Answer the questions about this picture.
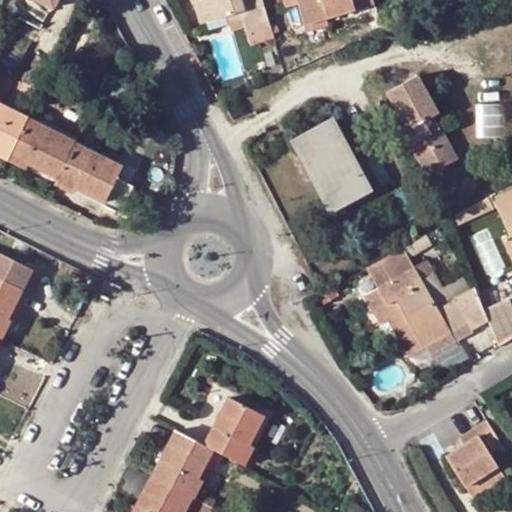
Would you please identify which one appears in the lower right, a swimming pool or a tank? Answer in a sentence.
There is a swimming pool in the lower right.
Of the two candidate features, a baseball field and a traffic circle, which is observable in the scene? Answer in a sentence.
Of the two, only a traffic circle appears.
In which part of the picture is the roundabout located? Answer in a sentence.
Look in the center portion of the view to spot the roundabout.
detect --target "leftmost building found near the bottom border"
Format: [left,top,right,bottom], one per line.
[134,431,212,512]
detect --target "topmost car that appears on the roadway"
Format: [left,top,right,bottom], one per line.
[154,4,168,24]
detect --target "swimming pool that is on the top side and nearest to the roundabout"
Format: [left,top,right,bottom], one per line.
[149,167,164,182]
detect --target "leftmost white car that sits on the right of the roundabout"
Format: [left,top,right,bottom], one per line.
[294,274,306,292]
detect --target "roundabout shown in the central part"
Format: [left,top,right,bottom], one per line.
[163,211,257,305]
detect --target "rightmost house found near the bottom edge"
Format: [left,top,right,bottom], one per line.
[446,421,504,496]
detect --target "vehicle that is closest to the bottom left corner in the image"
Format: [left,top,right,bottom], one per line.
[18,494,40,510]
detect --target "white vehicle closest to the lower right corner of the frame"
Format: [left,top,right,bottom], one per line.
[466,406,480,423]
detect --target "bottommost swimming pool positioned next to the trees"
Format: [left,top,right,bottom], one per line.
[371,362,405,391]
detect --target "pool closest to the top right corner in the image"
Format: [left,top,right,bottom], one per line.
[287,6,302,26]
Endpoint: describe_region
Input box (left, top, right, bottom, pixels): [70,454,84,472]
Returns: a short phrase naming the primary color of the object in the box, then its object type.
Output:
gray car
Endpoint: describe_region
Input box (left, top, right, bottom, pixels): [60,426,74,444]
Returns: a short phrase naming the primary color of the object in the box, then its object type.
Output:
white vehicle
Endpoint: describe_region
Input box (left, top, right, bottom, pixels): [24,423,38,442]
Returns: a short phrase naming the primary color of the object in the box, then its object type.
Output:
white vehicle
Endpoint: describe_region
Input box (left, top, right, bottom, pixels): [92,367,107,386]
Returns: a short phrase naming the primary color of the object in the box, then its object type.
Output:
gray car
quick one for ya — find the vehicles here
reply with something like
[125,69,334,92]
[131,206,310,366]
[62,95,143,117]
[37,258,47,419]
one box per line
[66,342,78,360]
[70,454,84,472]
[44,282,52,298]
[466,406,480,423]
[70,402,84,422]
[132,338,144,356]
[55,369,68,388]
[478,92,500,102]
[92,367,107,386]
[50,450,64,470]
[154,4,168,24]
[119,360,131,377]
[109,382,122,401]
[24,423,38,442]
[60,426,74,444]
[18,494,40,510]
[294,274,306,292]
[454,414,470,434]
